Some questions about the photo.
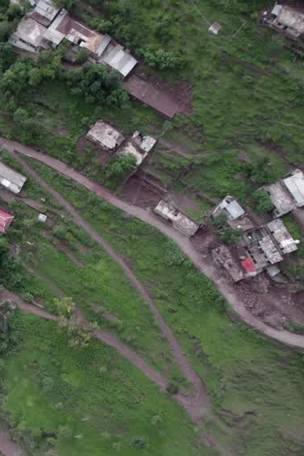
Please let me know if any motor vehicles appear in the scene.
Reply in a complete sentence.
No, the frame has no motor vehicle in it.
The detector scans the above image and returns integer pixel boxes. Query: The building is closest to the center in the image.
[150,200,198,237]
